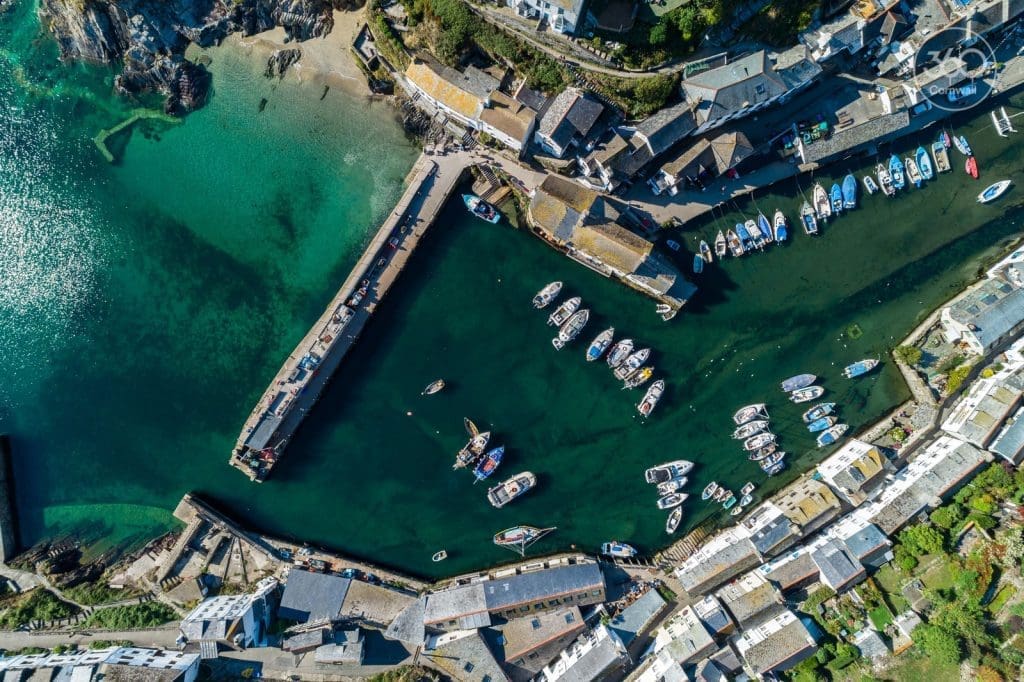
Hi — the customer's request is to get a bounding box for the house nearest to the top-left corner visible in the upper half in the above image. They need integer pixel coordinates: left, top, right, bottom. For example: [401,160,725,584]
[408,53,456,106]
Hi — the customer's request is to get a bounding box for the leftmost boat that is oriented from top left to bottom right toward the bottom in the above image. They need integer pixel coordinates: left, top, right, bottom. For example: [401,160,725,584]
[464,418,480,437]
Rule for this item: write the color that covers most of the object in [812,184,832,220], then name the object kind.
white boat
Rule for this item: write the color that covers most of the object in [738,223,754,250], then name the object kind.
blue boat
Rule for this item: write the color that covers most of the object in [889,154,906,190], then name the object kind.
blue boat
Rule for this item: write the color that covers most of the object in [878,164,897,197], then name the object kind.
white boat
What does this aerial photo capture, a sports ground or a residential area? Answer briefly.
residential area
